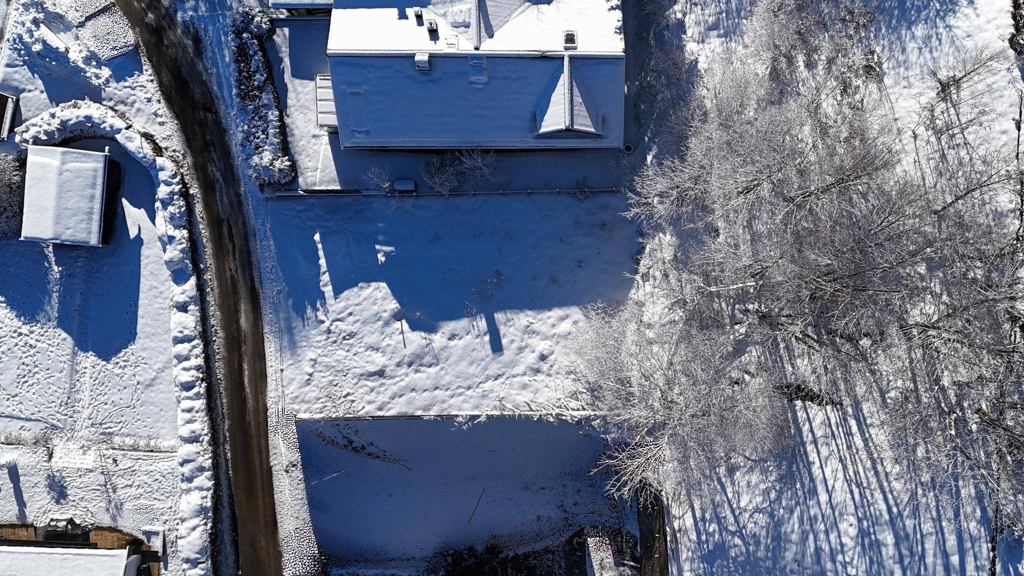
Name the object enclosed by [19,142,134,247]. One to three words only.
shed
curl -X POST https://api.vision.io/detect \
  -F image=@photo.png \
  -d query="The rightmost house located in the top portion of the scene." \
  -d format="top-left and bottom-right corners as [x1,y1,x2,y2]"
[317,0,627,152]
